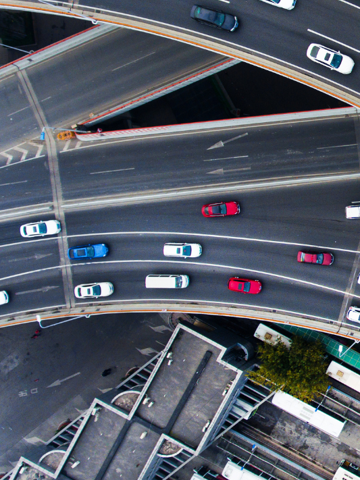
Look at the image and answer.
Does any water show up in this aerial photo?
No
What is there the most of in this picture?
paved ground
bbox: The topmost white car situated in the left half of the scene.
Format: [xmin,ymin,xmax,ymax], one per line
[20,219,63,237]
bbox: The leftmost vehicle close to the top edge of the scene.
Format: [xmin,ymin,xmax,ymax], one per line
[190,3,241,33]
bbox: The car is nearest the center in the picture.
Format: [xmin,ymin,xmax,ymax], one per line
[163,242,204,260]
